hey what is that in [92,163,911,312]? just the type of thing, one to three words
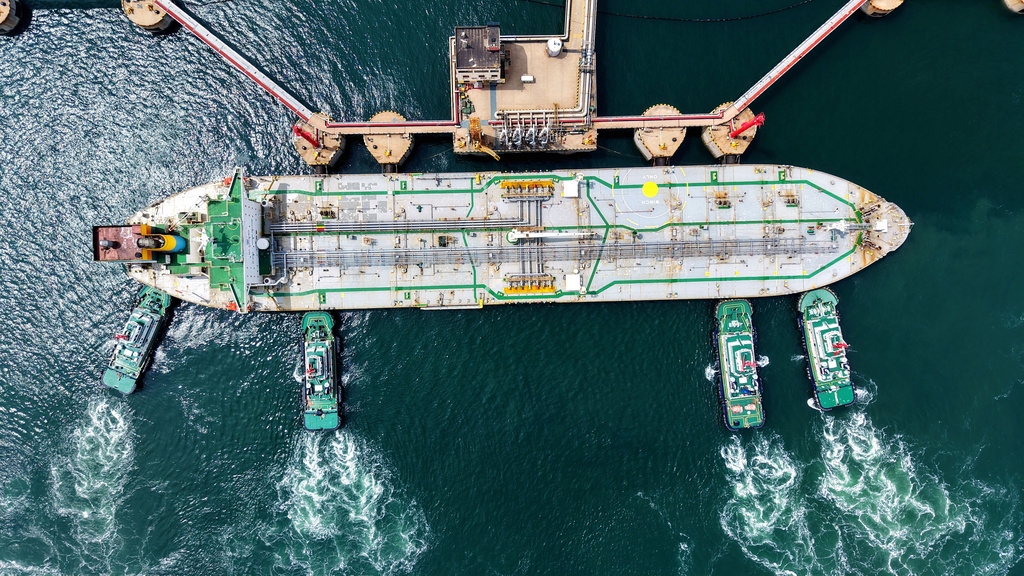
ship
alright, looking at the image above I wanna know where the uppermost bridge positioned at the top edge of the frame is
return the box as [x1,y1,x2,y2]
[566,0,598,37]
